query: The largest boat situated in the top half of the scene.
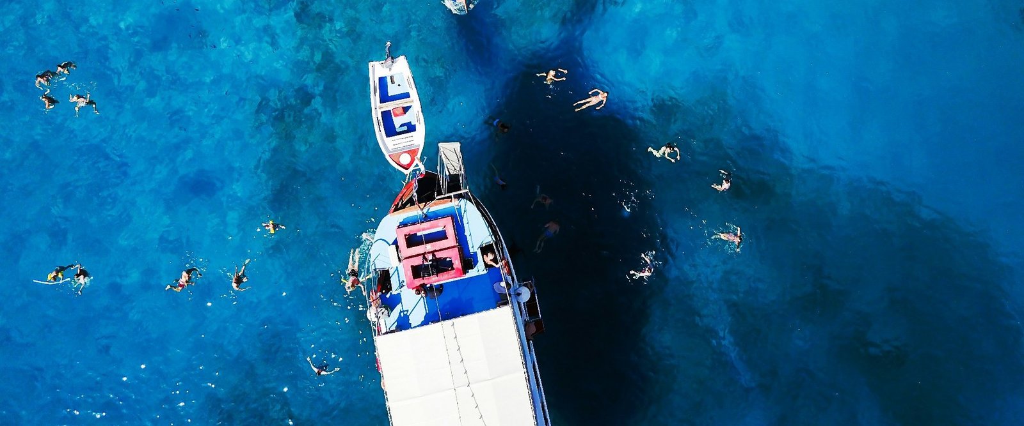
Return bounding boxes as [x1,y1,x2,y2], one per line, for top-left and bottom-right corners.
[369,41,424,172]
